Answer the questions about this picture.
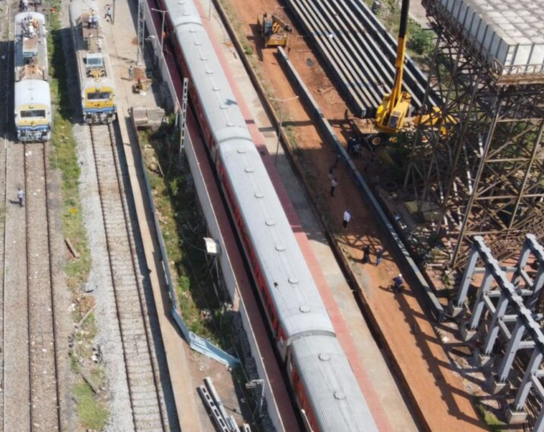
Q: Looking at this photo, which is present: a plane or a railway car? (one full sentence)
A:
This aerial view contains a railway car.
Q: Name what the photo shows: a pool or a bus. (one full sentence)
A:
There is a bus in the scene.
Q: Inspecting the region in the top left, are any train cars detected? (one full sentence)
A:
Yes, I can see a train car in the top left.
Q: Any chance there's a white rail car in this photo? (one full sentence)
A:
Yes, a white rail car is visible in the scene.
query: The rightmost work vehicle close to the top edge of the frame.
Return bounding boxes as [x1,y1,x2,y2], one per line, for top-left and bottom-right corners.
[257,7,299,52]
